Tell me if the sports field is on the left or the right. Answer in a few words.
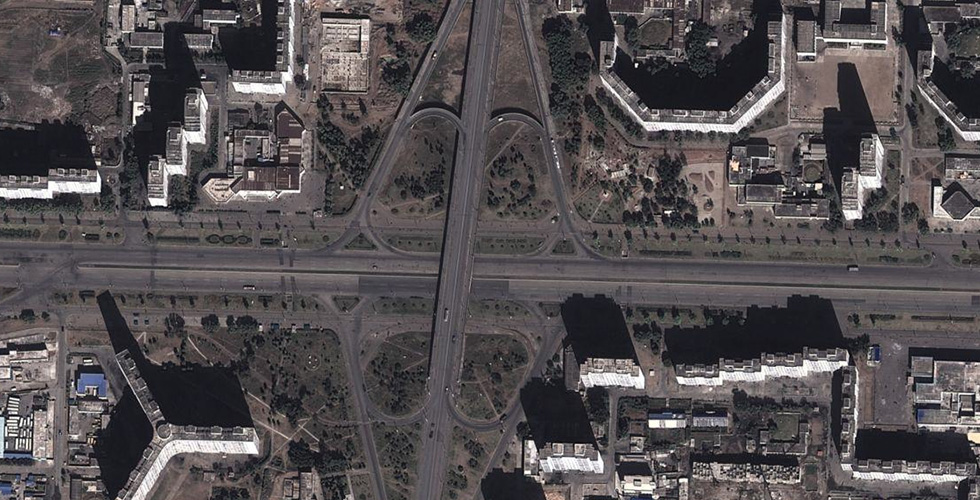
right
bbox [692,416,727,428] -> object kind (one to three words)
shed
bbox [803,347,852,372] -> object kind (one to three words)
building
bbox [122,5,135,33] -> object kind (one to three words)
building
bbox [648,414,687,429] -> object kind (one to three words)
shed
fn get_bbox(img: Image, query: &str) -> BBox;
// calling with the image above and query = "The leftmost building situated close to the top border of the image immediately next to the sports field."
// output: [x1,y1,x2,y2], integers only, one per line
[600,20,786,133]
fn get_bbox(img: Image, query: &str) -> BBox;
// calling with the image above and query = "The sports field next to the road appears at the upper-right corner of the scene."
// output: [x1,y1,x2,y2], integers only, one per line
[791,57,897,119]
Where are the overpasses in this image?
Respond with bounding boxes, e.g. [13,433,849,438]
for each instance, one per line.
[429,0,504,396]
